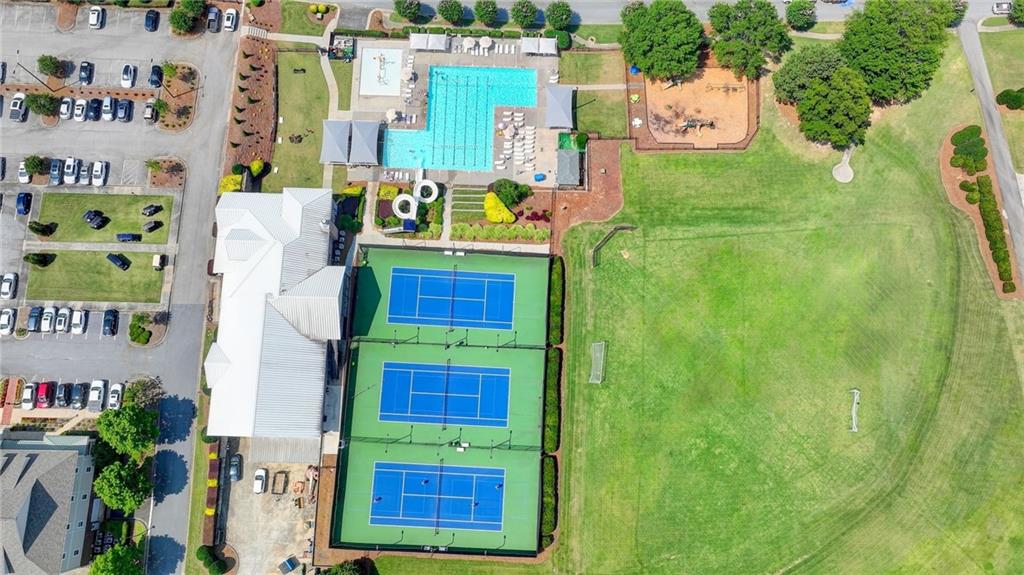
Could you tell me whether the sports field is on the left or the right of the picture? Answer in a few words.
right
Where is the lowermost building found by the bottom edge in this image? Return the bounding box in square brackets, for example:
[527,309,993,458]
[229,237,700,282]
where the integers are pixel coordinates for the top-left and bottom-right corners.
[0,431,92,575]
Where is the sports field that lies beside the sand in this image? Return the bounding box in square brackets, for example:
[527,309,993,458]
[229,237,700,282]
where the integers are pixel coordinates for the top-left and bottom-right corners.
[561,154,957,575]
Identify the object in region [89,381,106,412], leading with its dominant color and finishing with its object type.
white vehicle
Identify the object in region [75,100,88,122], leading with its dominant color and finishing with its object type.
white vehicle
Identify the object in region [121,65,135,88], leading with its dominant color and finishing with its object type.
white car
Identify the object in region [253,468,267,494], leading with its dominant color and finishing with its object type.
white car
